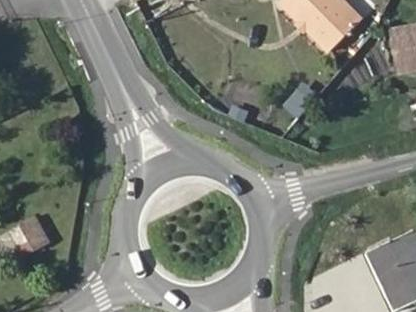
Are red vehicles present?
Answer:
No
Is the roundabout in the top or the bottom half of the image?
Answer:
bottom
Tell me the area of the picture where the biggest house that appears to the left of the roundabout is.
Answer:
bottom left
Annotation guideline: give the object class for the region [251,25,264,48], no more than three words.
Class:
vehicle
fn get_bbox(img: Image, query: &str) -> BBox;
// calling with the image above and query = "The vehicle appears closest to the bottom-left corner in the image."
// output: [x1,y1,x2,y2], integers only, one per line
[128,252,146,278]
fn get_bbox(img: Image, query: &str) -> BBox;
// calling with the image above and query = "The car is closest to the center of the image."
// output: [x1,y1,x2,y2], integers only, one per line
[226,176,244,196]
